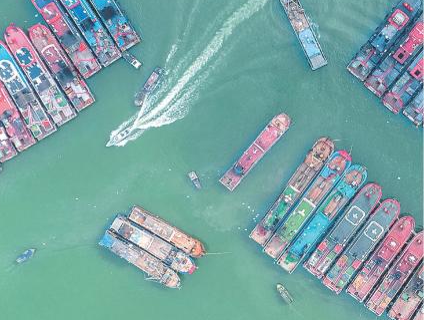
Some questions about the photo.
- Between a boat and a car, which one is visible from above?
boat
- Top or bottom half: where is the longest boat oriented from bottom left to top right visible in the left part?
top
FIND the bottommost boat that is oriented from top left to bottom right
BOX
[275,284,294,305]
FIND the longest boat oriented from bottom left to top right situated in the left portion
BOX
[134,65,168,105]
